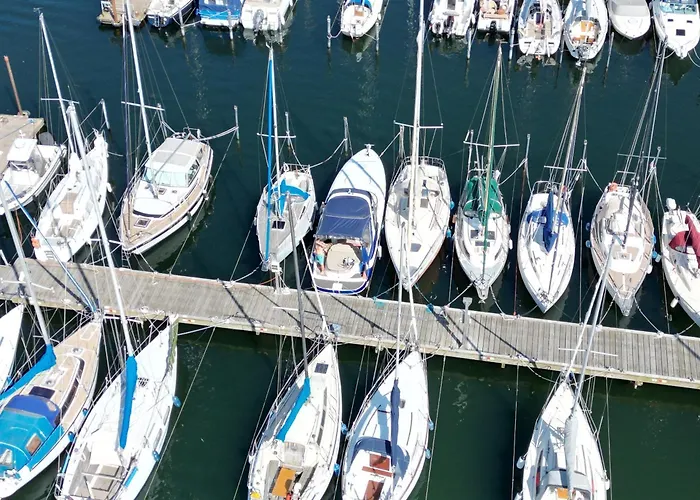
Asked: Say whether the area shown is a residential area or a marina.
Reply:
marina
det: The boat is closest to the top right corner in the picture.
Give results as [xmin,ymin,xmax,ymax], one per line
[647,0,699,61]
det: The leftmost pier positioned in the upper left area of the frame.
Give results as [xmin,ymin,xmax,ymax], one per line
[0,116,47,149]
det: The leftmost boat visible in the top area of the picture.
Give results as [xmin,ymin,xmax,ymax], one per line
[0,129,67,222]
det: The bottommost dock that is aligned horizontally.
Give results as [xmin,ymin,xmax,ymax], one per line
[0,259,700,388]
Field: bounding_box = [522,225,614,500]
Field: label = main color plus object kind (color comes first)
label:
white boat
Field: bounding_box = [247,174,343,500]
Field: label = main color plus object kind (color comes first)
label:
white boat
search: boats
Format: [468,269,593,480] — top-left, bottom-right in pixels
[516,52,584,311]
[312,140,390,299]
[121,0,218,256]
[647,0,699,61]
[562,0,607,67]
[247,174,343,500]
[660,176,700,317]
[0,272,26,400]
[0,129,67,222]
[604,0,648,41]
[256,33,317,270]
[429,0,472,40]
[589,31,665,318]
[341,0,384,42]
[522,225,614,500]
[31,0,109,266]
[243,0,292,34]
[514,0,558,58]
[0,174,106,500]
[340,207,429,500]
[146,0,198,27]
[455,25,518,295]
[474,0,512,34]
[53,85,187,500]
[385,0,449,293]
[200,0,244,29]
